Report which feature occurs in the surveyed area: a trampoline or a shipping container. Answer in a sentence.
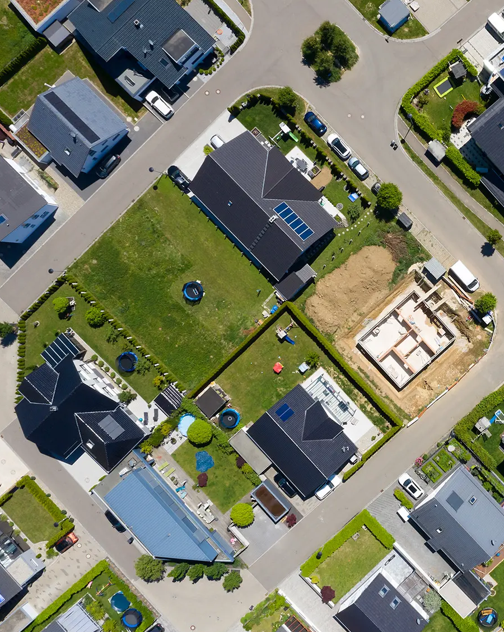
There is a trampoline in the scene.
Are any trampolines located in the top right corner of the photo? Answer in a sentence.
Yes, there is a trampoline in the top right corner of the photo.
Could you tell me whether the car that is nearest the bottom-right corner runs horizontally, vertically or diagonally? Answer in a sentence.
The car that is nearest the bottom-right corner is laid out diagonally.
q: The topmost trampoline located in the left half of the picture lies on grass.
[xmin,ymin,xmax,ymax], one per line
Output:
[182,281,203,302]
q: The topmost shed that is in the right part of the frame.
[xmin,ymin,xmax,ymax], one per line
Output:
[379,0,411,31]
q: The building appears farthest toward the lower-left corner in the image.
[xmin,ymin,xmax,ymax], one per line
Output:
[0,595,45,632]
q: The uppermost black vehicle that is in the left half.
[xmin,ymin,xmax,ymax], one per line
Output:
[158,83,182,105]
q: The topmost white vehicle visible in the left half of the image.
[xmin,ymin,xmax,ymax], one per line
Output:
[144,89,175,121]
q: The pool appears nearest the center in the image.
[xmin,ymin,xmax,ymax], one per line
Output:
[176,415,196,436]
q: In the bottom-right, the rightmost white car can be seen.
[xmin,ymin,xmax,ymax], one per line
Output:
[397,471,426,502]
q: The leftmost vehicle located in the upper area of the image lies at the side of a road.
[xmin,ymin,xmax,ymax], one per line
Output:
[96,152,124,180]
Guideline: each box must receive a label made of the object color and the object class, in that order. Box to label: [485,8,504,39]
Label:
white vehicle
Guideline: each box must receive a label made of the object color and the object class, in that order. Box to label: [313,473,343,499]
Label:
white car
